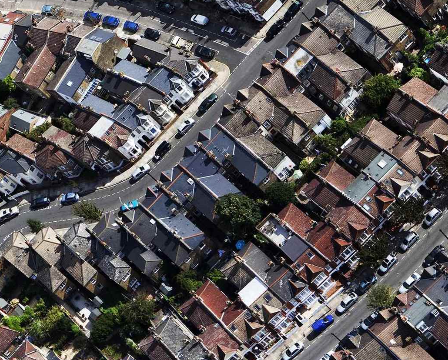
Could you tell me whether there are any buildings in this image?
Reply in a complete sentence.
Yes, the frame does contain a building.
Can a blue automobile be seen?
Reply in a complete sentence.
Yes, the photo shows a blue automobile.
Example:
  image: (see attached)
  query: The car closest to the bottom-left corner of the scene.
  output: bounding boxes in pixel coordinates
[0,207,19,223]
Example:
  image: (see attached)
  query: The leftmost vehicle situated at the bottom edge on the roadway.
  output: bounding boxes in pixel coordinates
[281,341,305,360]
